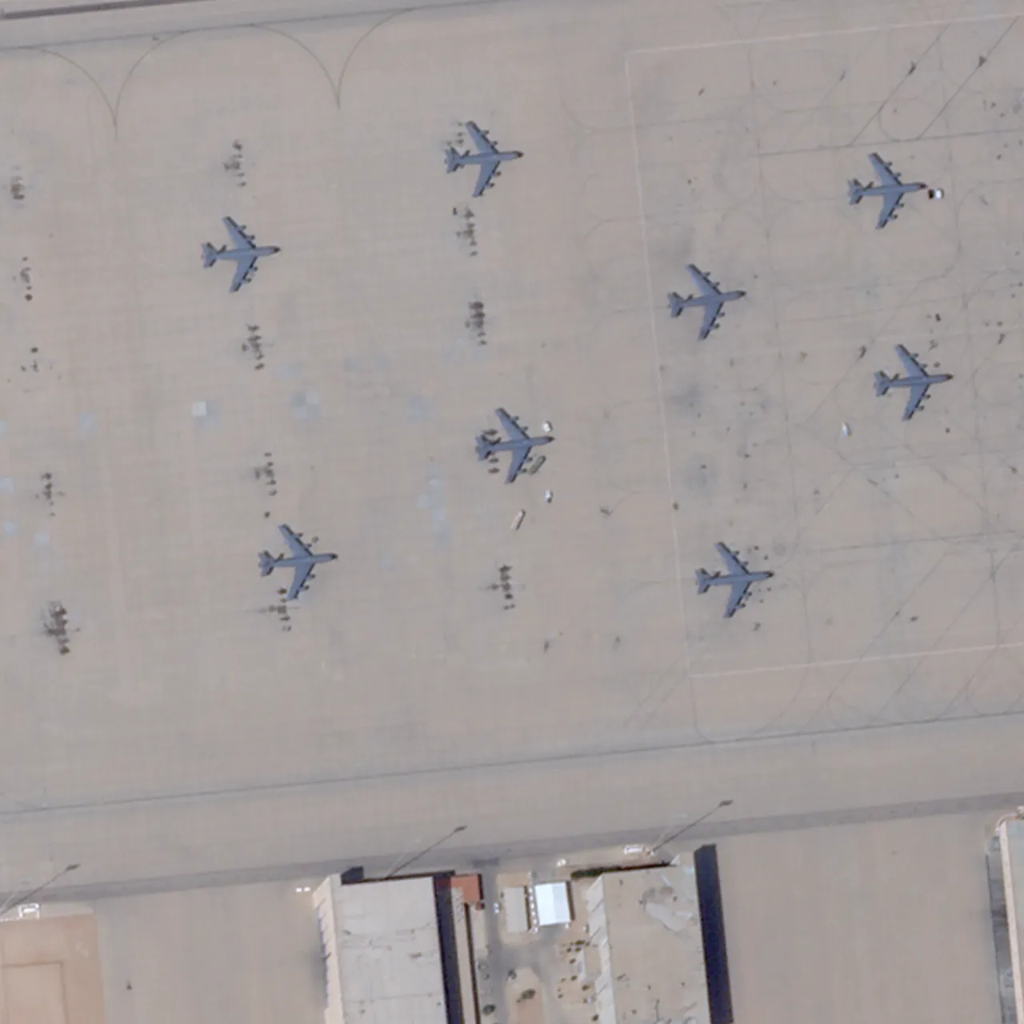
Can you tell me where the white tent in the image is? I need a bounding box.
[534,882,571,927]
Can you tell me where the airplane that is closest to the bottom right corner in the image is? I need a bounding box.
[696,542,771,617]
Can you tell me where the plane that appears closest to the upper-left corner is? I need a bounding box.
[203,217,278,292]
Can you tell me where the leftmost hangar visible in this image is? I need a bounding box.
[311,875,448,1024]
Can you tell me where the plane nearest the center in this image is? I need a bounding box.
[476,408,551,483]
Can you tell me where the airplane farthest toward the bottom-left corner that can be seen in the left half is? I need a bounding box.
[260,525,335,600]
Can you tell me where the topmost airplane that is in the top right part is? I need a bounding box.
[850,154,924,229]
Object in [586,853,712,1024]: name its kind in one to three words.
hangar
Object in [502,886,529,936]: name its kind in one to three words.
shed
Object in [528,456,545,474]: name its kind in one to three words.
vehicle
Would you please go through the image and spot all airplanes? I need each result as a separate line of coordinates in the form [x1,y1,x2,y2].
[203,217,278,292]
[446,123,520,198]
[876,345,950,420]
[696,542,771,617]
[669,264,744,339]
[476,408,551,483]
[260,525,335,600]
[850,154,924,229]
